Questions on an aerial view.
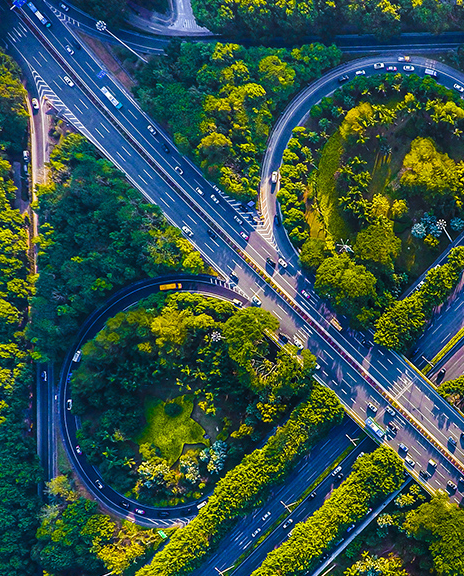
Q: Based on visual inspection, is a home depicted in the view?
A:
No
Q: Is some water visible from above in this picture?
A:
No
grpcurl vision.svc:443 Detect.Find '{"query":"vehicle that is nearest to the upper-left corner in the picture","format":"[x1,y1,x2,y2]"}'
[25,1,53,29]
